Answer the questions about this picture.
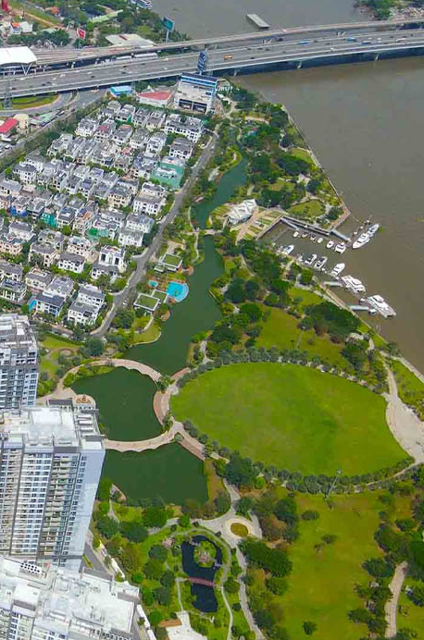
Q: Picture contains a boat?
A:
Yes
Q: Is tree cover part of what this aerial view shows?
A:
Yes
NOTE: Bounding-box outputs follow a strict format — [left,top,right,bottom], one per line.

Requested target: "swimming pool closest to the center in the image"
[166,282,189,301]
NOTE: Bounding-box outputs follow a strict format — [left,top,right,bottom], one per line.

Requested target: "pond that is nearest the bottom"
[182,535,222,612]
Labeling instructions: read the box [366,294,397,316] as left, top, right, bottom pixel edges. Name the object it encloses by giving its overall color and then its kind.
white boat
